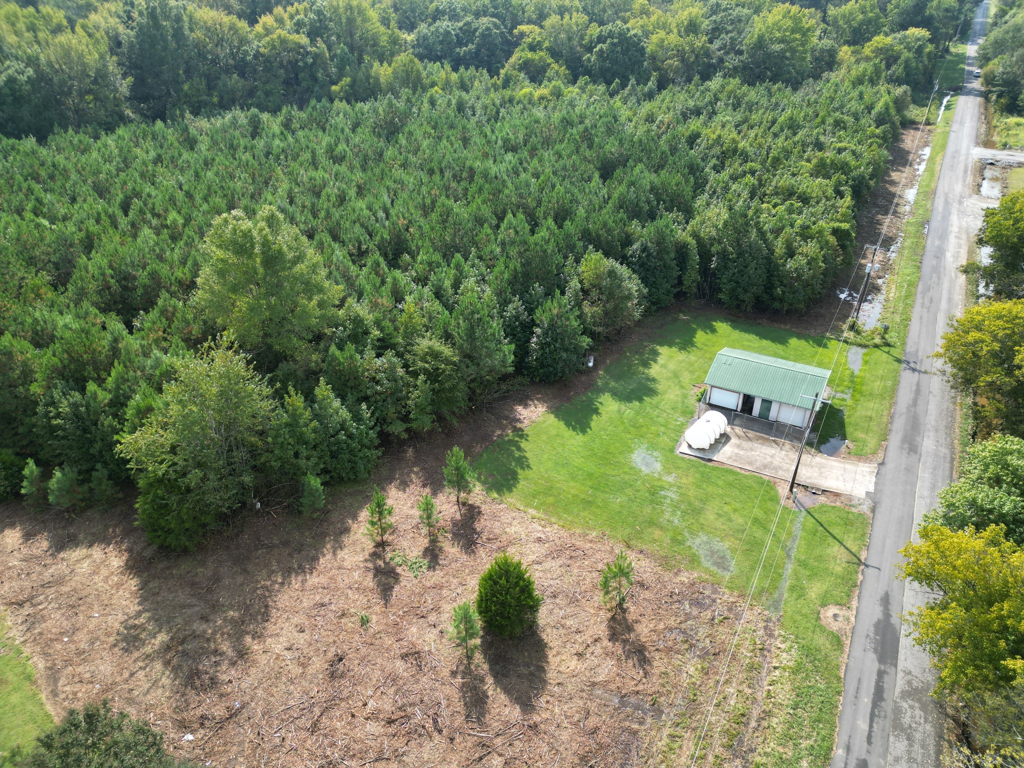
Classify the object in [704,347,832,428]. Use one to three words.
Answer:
shed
